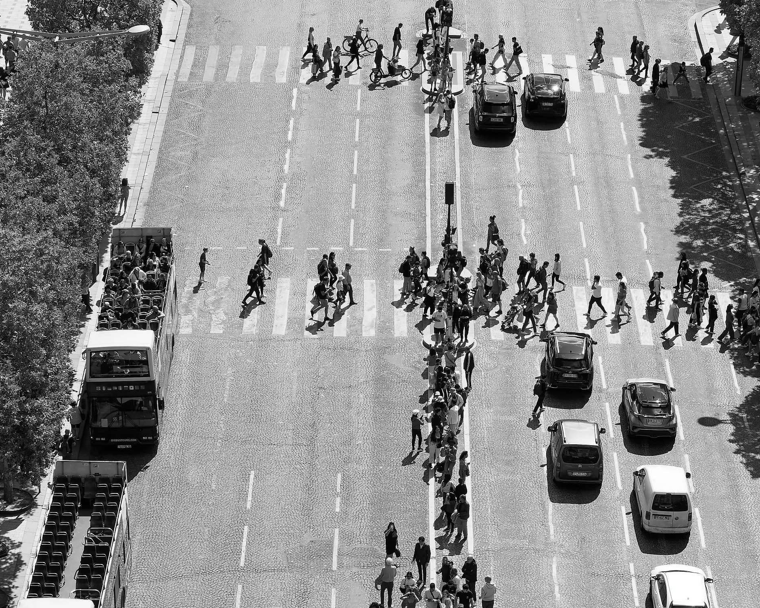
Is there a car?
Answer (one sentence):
Yes, there is a car in the image.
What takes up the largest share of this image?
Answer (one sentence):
Most of the picture is covered by paved ground.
